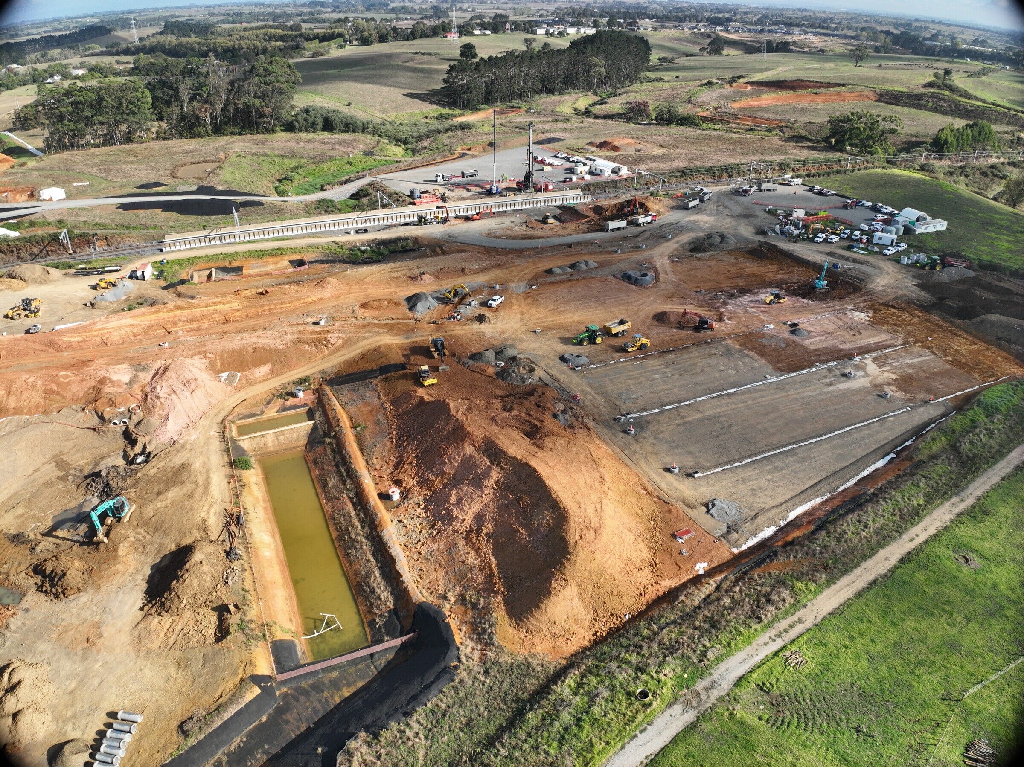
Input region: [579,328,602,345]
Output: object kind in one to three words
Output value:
work vehicle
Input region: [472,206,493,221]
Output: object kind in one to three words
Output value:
work vehicle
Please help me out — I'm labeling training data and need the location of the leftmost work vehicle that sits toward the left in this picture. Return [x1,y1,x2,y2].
[7,301,39,318]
